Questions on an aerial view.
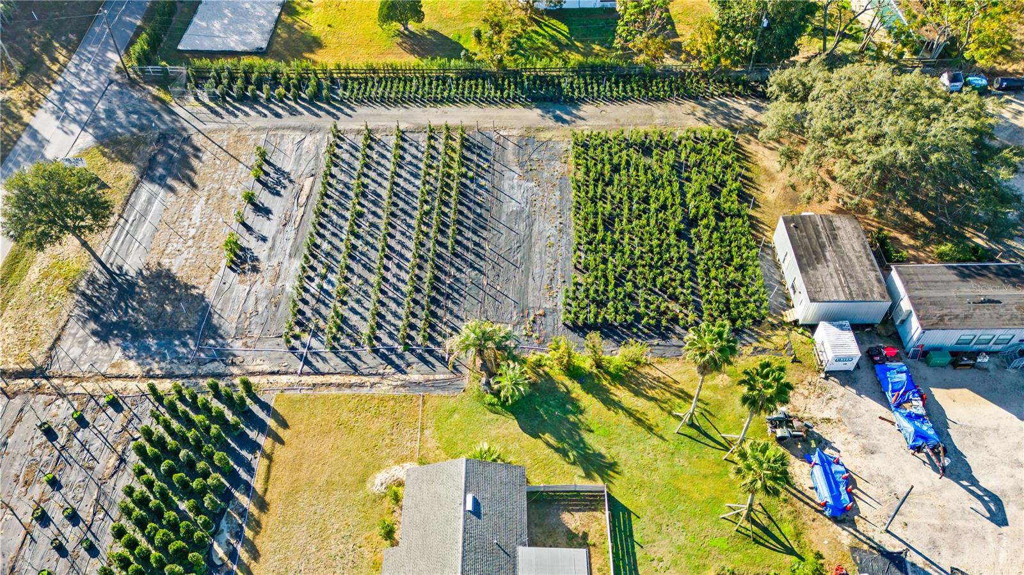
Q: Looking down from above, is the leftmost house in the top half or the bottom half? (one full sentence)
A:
The bottom half of the photo is where the leftmost house is.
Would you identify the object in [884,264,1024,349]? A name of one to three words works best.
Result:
house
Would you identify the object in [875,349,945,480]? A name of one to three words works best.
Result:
trailer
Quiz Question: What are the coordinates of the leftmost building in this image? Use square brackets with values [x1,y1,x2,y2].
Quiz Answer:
[381,459,529,575]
